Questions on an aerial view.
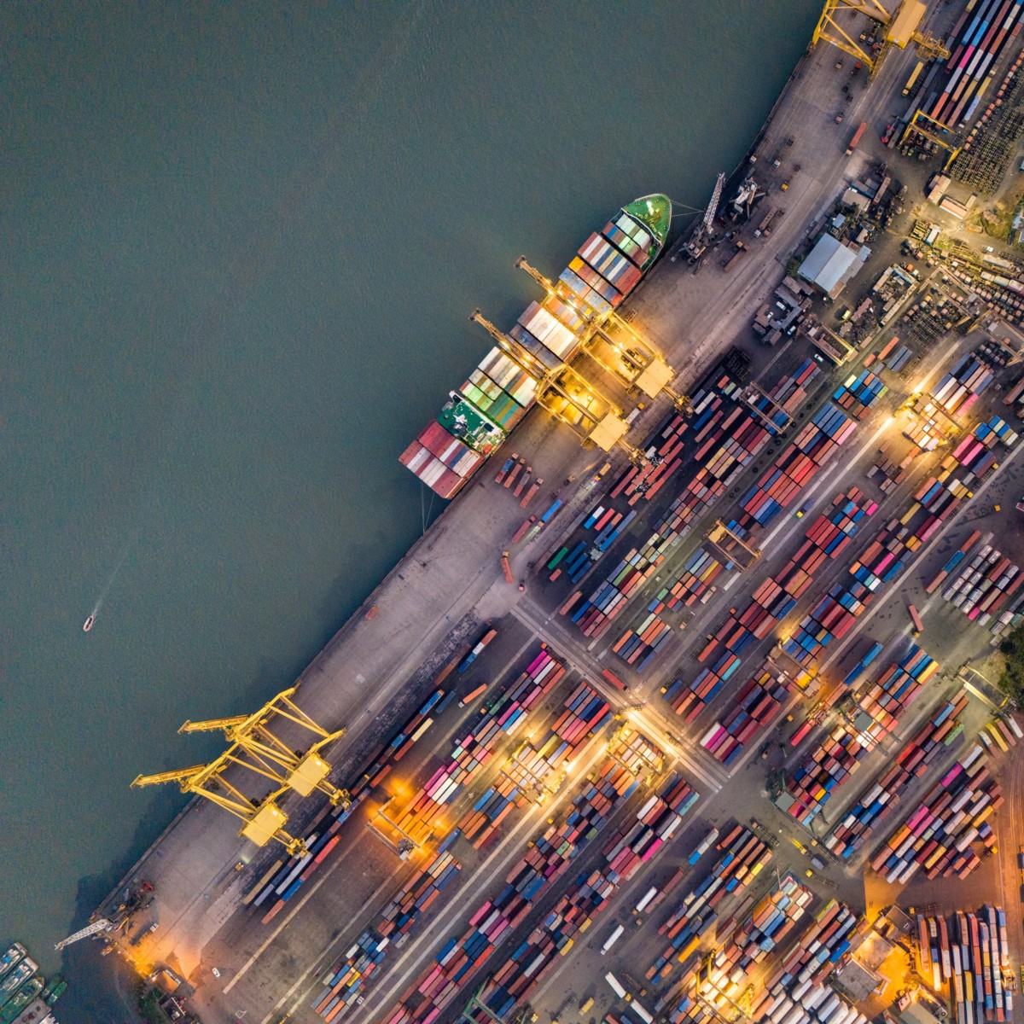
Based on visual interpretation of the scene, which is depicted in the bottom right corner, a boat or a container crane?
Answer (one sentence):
It is a container crane that can be seen in the bottom right corner.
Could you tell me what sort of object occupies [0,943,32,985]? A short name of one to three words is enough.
boat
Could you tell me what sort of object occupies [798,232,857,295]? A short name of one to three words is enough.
building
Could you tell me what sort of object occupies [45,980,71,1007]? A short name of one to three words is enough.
boat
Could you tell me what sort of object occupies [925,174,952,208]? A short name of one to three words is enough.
shed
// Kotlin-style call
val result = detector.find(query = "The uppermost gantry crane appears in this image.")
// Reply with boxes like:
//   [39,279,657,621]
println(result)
[803,0,957,87]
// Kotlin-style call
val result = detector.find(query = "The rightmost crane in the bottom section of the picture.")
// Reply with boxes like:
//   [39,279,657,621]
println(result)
[939,652,1011,712]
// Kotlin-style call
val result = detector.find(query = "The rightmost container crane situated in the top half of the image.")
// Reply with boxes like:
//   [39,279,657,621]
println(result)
[962,310,1024,373]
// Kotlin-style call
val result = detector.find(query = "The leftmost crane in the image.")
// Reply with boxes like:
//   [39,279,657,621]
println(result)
[47,901,140,947]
